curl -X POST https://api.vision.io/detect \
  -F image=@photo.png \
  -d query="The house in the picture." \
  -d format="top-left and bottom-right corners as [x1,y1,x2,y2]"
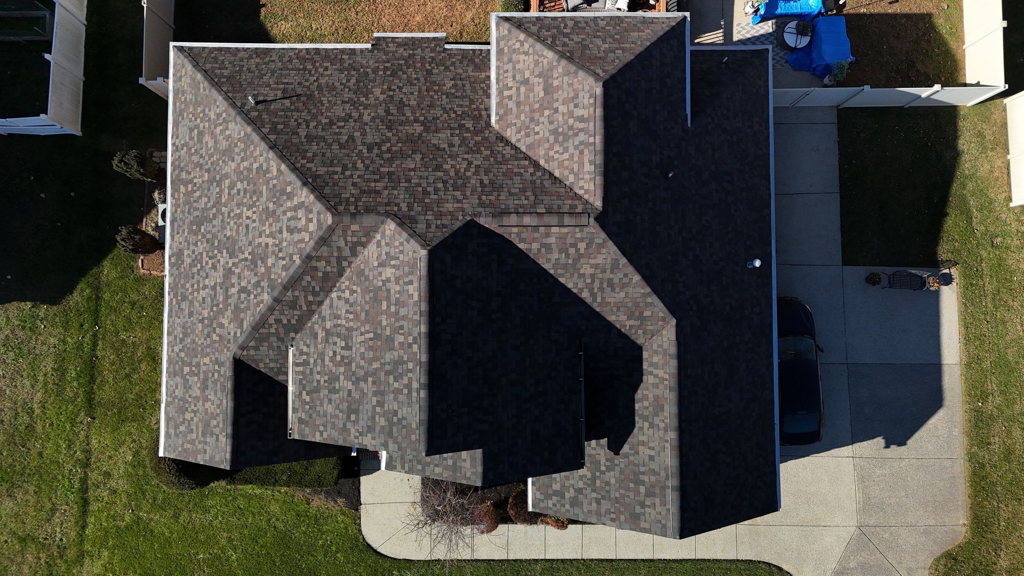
[158,10,782,539]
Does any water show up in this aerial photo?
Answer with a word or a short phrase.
No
